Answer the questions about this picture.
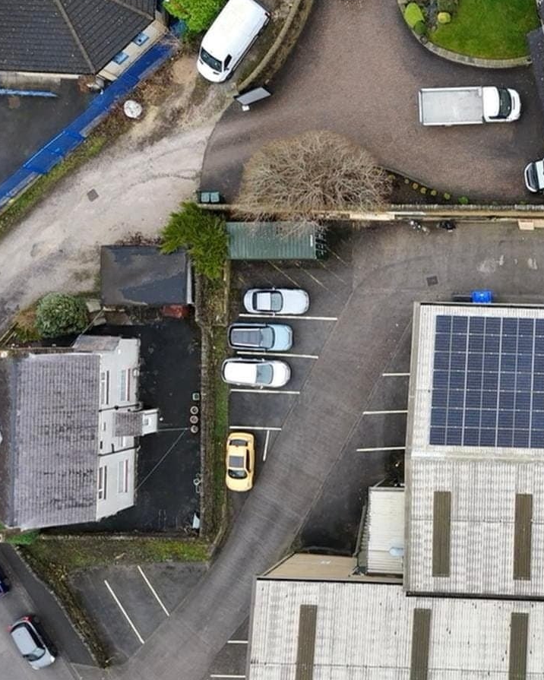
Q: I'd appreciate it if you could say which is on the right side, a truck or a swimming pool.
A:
truck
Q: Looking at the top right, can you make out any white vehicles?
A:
Yes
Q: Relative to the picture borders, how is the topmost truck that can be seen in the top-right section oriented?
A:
from left to right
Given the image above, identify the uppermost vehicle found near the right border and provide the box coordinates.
[418,85,519,127]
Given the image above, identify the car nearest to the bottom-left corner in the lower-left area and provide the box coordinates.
[6,611,59,671]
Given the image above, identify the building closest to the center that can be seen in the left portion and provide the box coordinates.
[101,244,209,307]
